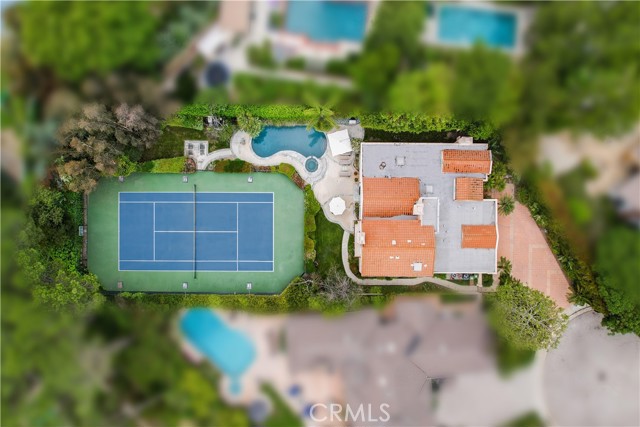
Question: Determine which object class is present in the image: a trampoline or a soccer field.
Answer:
trampoline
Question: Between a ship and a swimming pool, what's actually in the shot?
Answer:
swimming pool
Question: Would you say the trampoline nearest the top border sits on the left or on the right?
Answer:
left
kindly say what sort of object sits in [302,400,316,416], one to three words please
umbrella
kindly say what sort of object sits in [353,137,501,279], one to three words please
house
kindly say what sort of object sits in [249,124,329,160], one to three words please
swimming pool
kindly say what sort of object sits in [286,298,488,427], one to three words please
house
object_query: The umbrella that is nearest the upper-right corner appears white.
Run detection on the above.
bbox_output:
[328,126,352,157]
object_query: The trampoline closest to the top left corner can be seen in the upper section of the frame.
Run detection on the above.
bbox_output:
[201,59,226,85]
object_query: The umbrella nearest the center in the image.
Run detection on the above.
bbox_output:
[329,198,346,214]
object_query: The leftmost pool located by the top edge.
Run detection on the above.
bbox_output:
[284,0,370,43]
